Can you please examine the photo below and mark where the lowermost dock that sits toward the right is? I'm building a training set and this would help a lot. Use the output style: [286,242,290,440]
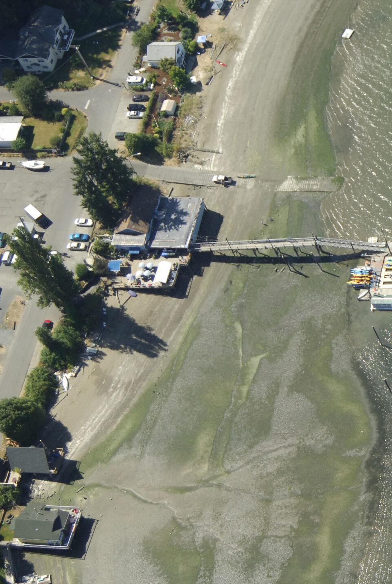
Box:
[358,252,392,312]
